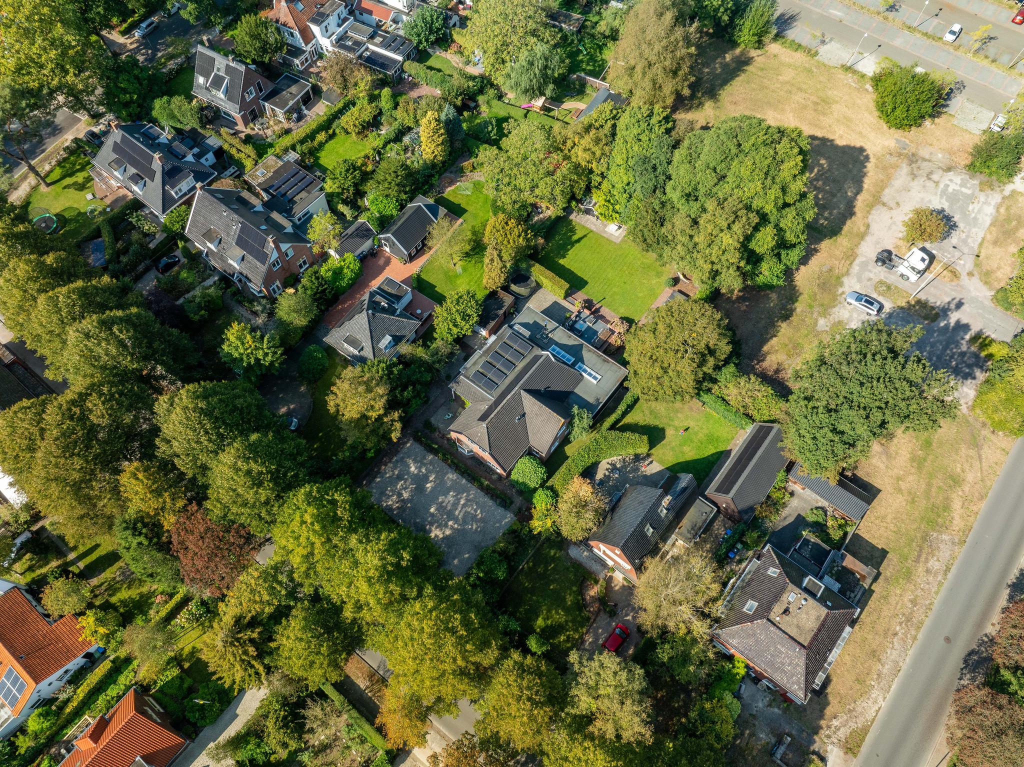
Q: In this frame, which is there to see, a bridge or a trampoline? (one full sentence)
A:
This aerial view contains a trampoline.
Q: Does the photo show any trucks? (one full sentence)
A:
Yes, there's a truck here.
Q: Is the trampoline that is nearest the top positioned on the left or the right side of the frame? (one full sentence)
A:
The trampoline that is nearest the top is on the left side of the image.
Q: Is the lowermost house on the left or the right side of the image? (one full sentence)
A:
The lowermost house is on the left side of the image.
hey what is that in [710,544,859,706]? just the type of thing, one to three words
house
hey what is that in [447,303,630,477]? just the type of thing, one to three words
house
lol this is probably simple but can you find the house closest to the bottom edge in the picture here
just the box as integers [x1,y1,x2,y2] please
[55,687,193,767]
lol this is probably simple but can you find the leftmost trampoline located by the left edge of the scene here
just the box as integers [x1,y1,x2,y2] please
[24,204,60,234]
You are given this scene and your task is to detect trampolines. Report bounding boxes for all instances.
[24,204,60,234]
[508,269,538,302]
